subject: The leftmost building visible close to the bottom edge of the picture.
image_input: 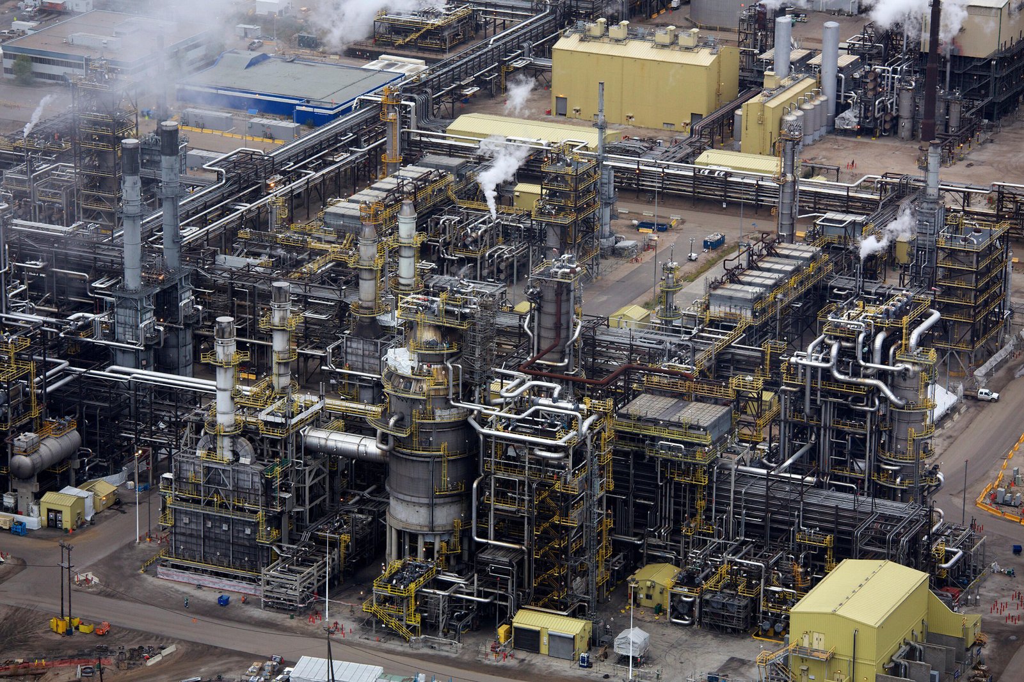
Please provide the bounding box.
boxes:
[510,609,591,660]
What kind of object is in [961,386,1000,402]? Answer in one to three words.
vehicle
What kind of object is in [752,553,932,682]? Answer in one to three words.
building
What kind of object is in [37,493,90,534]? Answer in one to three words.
shed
